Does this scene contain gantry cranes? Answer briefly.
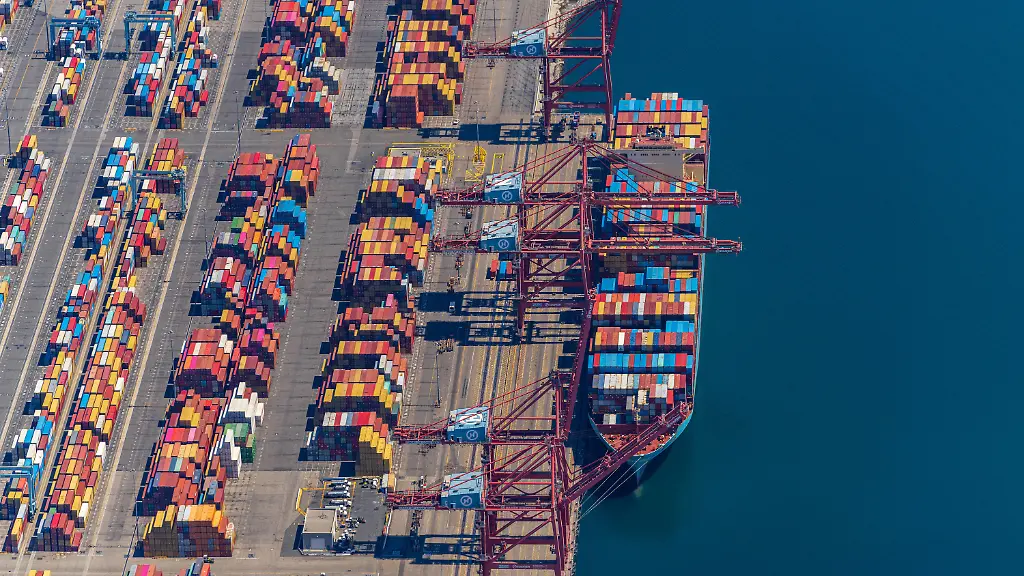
Yes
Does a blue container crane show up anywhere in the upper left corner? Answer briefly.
Yes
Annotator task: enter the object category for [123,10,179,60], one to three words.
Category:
container crane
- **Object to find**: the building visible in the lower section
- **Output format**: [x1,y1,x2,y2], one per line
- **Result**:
[302,507,340,551]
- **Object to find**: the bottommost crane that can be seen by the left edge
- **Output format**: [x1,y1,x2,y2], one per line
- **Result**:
[0,463,39,521]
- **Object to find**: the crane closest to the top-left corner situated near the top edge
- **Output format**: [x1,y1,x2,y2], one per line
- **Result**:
[45,11,103,61]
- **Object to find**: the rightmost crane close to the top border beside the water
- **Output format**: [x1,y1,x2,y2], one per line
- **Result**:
[465,0,621,153]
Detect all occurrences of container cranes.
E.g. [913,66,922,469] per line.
[123,10,179,60]
[45,11,103,61]
[0,463,39,521]
[386,401,693,576]
[431,180,740,355]
[465,0,621,153]
[130,166,190,220]
[435,133,741,316]
[393,282,595,572]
